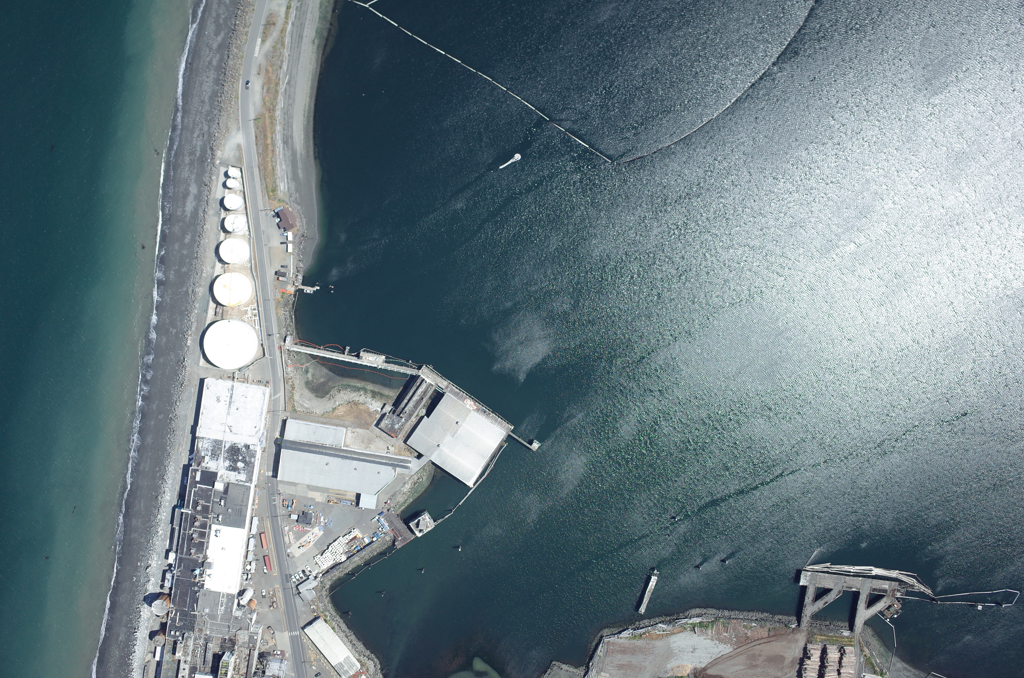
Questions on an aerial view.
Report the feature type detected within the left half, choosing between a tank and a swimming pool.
tank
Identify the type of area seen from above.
port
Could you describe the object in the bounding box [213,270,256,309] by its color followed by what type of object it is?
white storage tank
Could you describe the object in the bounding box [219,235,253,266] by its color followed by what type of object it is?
white storage tank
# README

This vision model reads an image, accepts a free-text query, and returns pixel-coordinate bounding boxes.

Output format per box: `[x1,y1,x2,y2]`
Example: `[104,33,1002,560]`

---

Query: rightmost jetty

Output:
[799,570,898,633]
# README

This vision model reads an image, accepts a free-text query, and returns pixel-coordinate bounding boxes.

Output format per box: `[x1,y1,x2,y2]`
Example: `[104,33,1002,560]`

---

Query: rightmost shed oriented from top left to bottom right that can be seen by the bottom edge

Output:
[304,617,363,678]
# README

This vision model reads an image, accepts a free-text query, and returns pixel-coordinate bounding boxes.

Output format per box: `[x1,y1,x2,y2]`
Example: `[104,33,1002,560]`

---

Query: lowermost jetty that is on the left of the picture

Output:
[381,508,415,548]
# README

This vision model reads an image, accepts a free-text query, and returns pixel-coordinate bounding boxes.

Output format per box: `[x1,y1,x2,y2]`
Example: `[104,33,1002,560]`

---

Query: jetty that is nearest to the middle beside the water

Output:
[407,366,513,485]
